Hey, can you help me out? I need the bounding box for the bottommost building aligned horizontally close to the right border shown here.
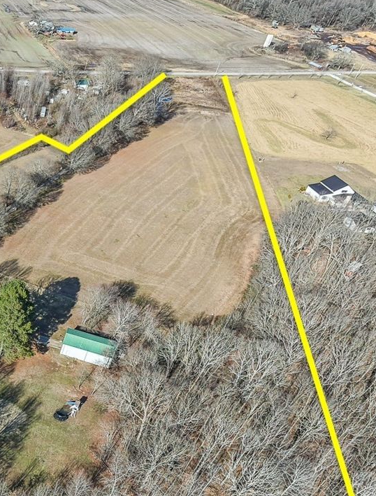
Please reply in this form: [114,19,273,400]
[301,176,357,202]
